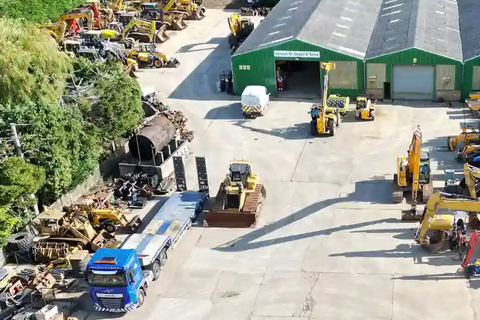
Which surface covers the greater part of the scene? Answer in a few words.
paved ground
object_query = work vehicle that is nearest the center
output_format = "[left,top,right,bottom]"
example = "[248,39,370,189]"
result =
[203,149,261,217]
